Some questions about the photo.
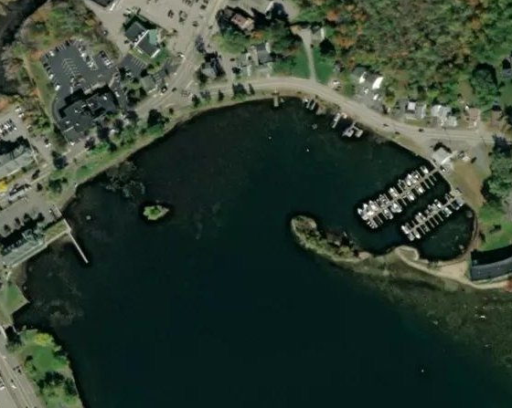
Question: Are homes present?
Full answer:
Yes, there's a home down there.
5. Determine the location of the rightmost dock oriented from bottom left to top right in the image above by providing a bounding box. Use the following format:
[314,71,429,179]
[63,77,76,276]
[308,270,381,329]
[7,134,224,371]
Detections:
[406,191,461,238]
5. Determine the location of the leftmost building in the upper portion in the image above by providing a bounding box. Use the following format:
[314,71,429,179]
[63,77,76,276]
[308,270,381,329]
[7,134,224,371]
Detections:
[0,138,39,180]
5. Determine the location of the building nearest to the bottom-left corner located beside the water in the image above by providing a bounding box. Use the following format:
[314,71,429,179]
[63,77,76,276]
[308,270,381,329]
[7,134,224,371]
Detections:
[0,222,54,265]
